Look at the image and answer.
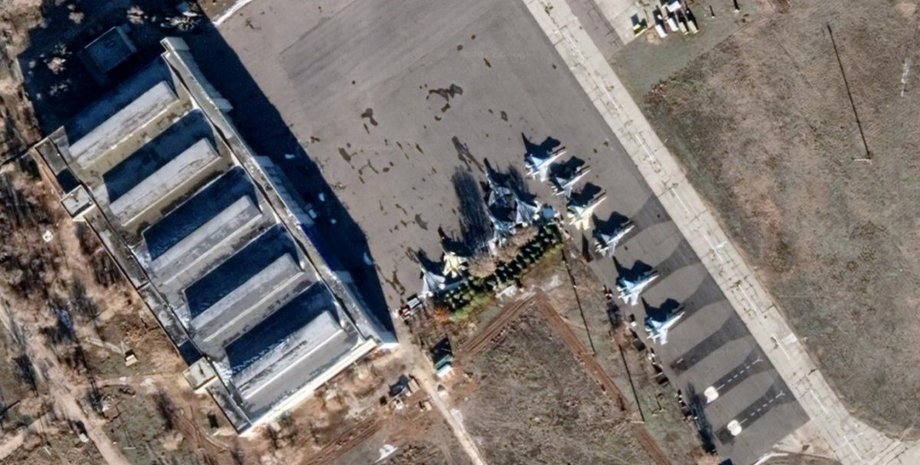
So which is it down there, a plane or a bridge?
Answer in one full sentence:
I can see a plane in this picture.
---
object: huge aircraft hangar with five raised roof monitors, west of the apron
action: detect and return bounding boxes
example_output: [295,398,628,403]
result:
[35,38,396,433]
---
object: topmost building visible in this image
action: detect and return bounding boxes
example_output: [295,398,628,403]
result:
[84,27,139,73]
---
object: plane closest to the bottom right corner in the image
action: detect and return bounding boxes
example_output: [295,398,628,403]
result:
[641,313,683,347]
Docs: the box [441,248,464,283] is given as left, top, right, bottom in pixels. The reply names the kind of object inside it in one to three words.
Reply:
airplane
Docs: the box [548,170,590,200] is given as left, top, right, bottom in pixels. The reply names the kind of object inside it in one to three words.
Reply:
airplane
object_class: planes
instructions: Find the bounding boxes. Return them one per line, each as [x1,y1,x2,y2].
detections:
[592,226,633,259]
[507,182,540,227]
[615,275,658,305]
[411,255,444,298]
[565,197,606,232]
[524,152,565,183]
[485,170,515,212]
[641,313,683,347]
[441,248,464,283]
[548,170,590,200]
